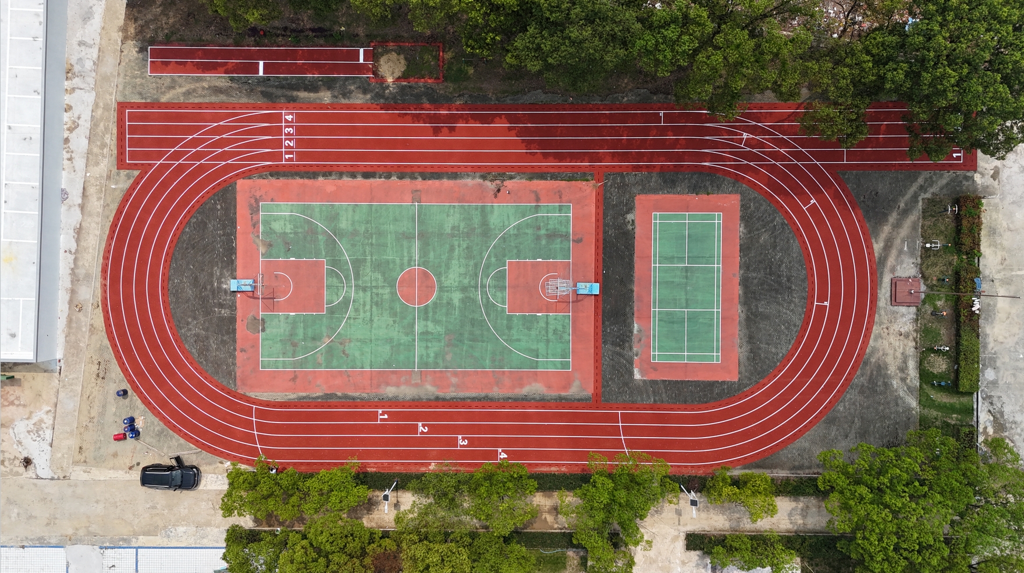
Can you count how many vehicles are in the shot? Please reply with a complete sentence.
I count just 1 vehicle.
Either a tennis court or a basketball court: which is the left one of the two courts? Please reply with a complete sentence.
I'd identify the left one of the two courts as a basketball court.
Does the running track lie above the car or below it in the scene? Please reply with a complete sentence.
Relative to the car, the running track lies above it.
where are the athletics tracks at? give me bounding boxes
[101,102,976,475]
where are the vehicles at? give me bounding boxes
[139,455,202,493]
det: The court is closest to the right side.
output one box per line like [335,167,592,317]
[634,194,740,381]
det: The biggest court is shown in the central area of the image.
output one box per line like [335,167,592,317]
[236,179,595,394]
